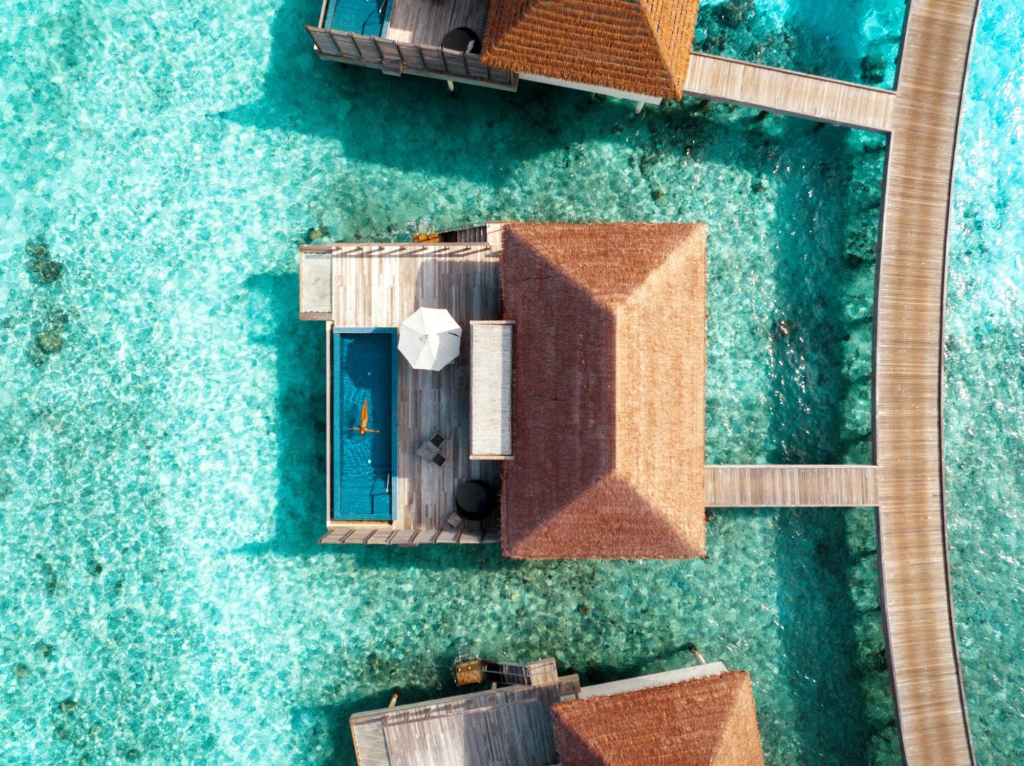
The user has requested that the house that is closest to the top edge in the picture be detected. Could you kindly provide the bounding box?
[478,0,703,114]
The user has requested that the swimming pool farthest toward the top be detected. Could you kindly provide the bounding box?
[313,0,395,47]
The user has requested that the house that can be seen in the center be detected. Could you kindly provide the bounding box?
[470,221,709,561]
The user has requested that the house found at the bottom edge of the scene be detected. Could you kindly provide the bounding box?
[546,656,771,766]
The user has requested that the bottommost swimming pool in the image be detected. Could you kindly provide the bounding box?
[326,321,398,528]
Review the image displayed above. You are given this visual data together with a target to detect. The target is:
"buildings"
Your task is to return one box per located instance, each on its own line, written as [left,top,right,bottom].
[470,221,709,561]
[478,0,703,114]
[546,656,771,766]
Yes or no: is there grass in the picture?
No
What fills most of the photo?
water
